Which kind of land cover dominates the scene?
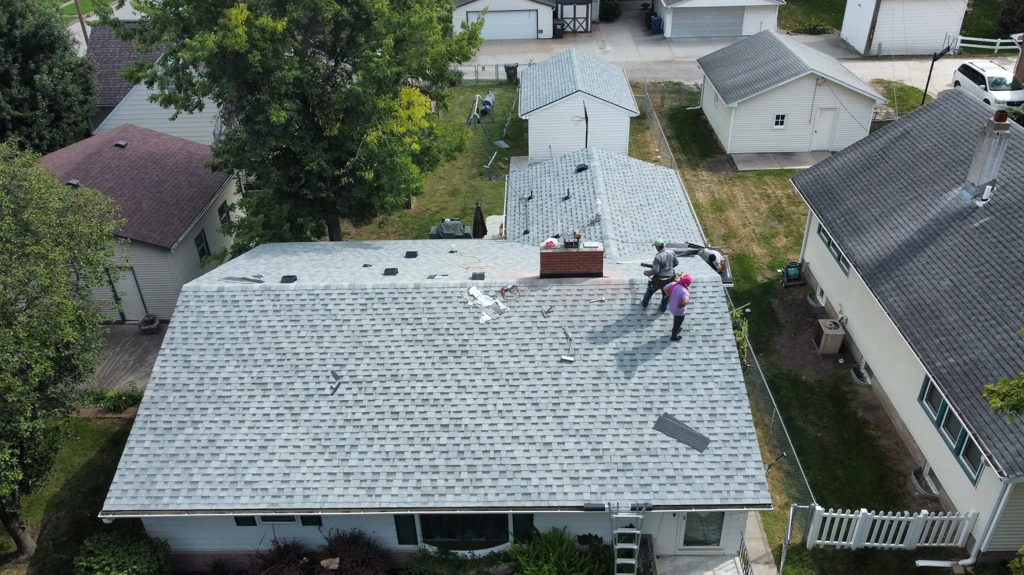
buildings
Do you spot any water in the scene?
No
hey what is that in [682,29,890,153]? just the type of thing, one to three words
building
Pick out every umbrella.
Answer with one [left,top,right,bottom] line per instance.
[469,187,487,236]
